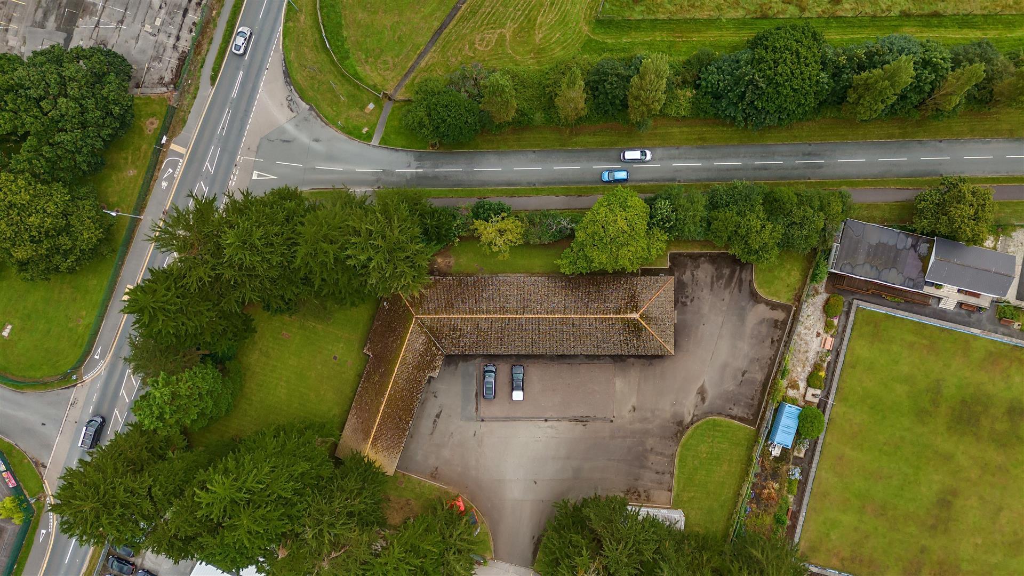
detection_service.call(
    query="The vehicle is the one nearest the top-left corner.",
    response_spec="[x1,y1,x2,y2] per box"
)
[233,26,254,58]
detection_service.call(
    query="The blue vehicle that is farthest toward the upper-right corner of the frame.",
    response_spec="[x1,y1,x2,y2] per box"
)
[601,169,629,184]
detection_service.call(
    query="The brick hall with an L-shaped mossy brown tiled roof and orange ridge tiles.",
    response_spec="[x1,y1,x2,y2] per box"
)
[335,273,678,476]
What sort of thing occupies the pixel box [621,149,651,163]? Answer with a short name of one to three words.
car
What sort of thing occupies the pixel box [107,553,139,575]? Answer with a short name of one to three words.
car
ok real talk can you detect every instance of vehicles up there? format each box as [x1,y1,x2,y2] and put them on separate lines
[107,553,139,575]
[75,414,108,451]
[621,149,651,163]
[109,537,141,559]
[601,169,629,184]
[482,363,497,399]
[233,26,254,58]
[510,364,525,400]
[136,564,166,576]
